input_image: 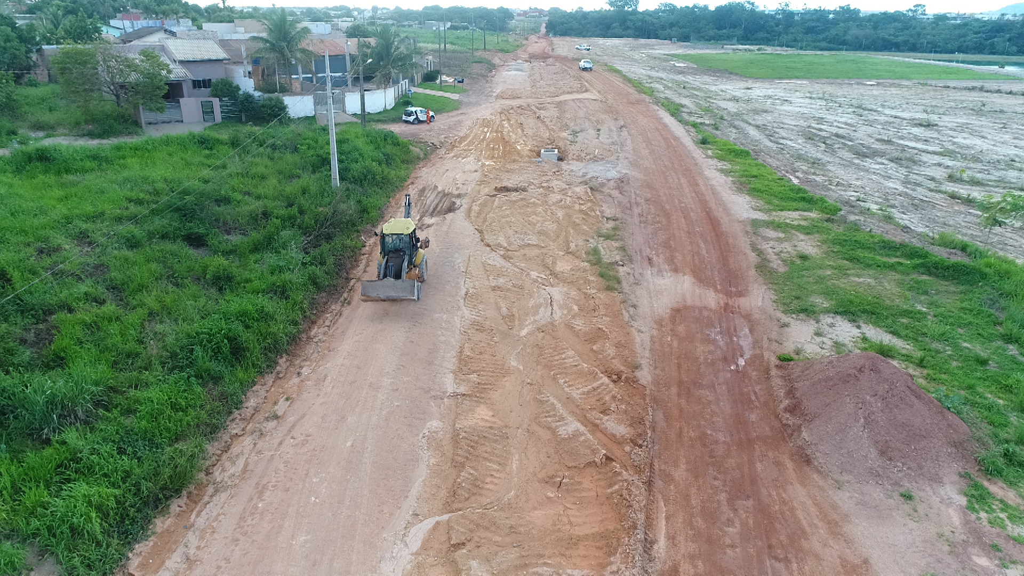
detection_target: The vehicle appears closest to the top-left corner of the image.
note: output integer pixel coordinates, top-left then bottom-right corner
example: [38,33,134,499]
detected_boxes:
[400,107,437,124]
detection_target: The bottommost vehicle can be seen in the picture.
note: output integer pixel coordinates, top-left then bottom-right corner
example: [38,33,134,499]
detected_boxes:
[361,193,433,303]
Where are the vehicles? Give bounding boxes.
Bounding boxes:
[580,61,592,71]
[574,44,592,50]
[361,193,433,303]
[400,107,437,124]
